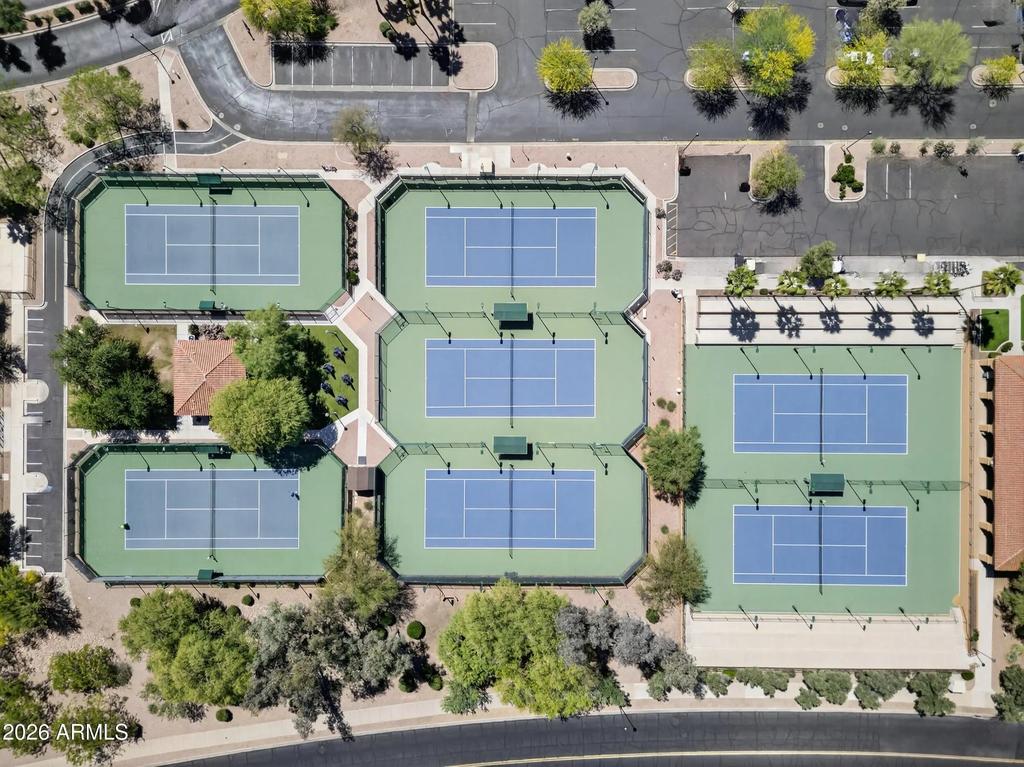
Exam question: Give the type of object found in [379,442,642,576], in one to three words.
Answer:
tennis court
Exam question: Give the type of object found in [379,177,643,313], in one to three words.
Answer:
tennis court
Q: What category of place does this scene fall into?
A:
sports ground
